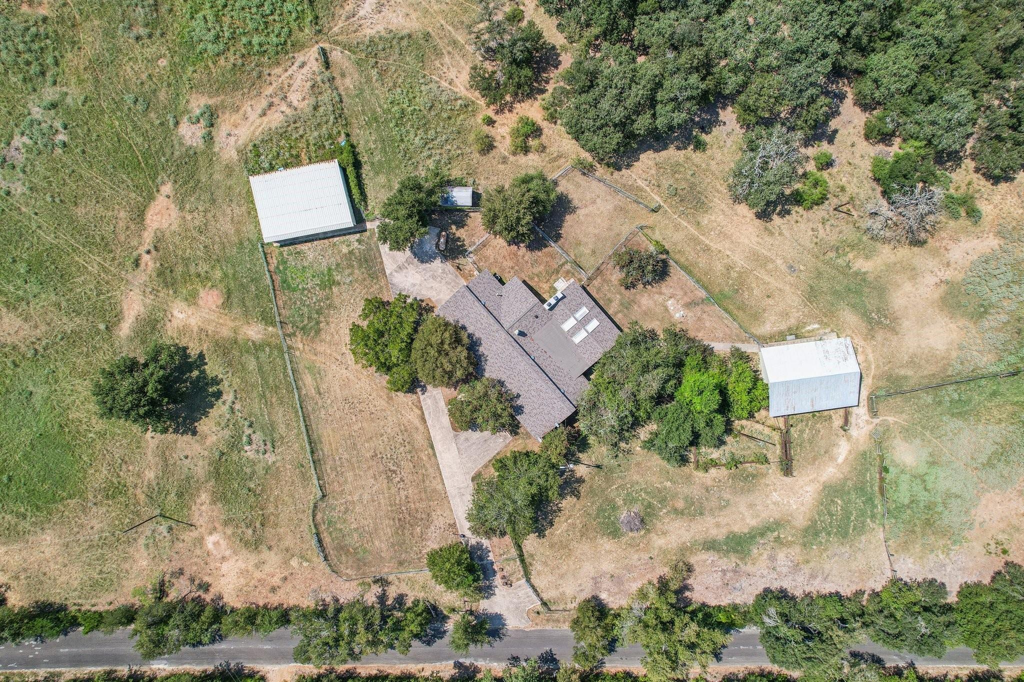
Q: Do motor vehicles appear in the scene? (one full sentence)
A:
No, no motor vehicle can be seen from above.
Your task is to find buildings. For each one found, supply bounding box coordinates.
[249,160,360,243]
[754,338,860,417]
[440,187,472,207]
[436,269,617,438]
